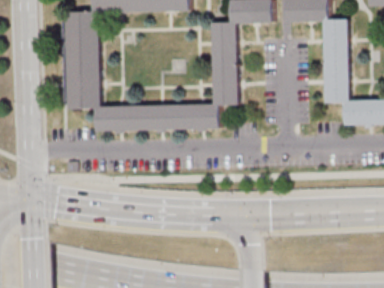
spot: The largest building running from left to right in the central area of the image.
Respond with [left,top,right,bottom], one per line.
[92,103,221,132]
